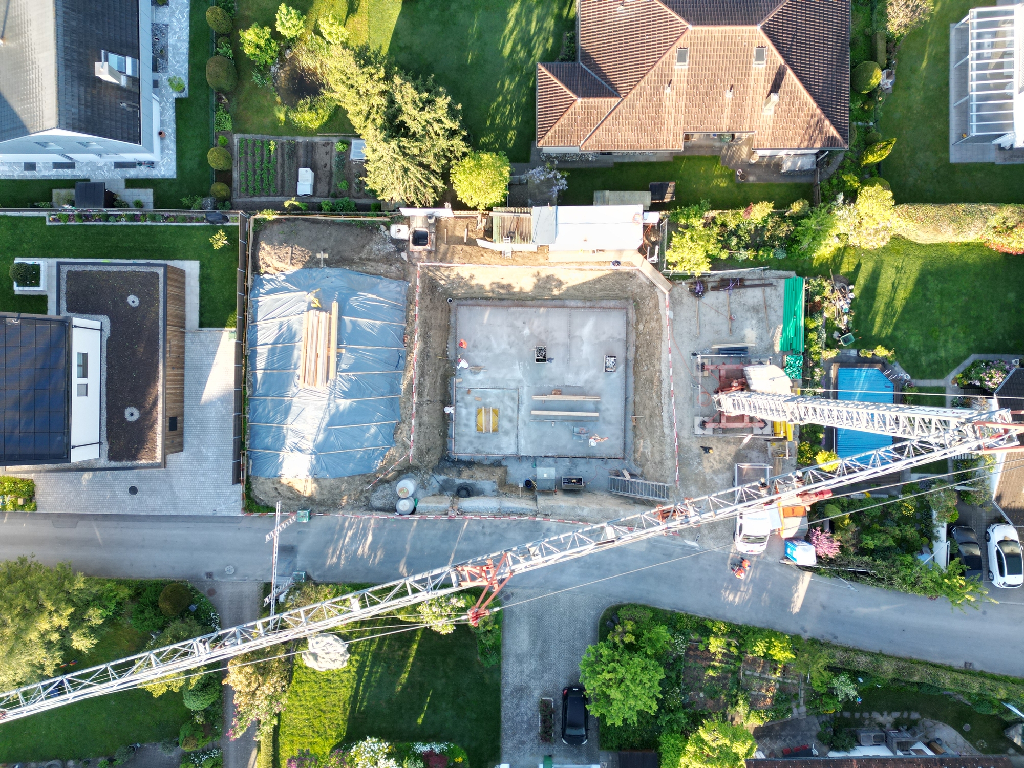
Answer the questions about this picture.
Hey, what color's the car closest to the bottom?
black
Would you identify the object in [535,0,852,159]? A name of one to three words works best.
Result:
house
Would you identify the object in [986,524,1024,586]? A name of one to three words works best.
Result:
car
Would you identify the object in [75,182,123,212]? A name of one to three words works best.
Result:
shed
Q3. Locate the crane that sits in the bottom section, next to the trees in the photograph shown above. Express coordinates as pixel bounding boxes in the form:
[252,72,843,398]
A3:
[0,361,1024,723]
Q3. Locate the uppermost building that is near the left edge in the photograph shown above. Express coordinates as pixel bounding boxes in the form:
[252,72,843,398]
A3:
[0,0,160,162]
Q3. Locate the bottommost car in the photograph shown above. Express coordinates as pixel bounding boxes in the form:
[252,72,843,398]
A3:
[559,686,590,746]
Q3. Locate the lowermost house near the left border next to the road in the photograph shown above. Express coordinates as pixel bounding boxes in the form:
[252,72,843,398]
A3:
[0,263,187,466]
